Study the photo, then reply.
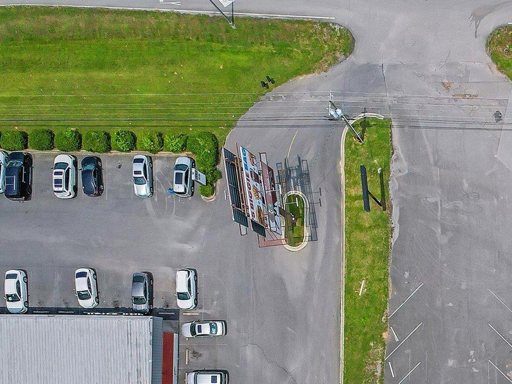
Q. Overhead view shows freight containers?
No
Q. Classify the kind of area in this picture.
parking lot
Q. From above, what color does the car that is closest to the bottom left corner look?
white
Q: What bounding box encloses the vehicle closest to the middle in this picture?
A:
[171,156,195,197]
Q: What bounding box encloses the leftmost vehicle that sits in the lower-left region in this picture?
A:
[4,269,29,313]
